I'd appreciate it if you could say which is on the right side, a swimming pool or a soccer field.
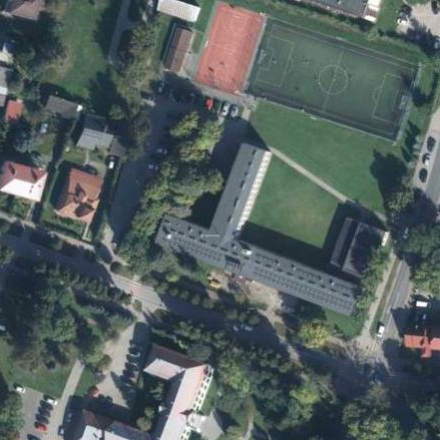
soccer field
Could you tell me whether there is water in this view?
No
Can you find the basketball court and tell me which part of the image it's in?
top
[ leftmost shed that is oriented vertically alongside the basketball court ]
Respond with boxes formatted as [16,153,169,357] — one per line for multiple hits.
[164,24,194,74]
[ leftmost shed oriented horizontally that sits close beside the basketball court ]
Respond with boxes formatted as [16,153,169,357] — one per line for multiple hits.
[156,0,202,23]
